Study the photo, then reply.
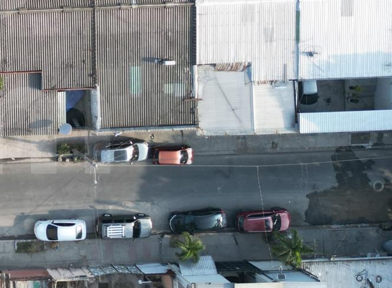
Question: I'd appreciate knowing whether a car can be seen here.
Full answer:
Yes, the image includes a car.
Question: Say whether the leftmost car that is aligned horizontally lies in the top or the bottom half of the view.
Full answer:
The leftmost car that is aligned horizontally sits in the bottom half of the picture.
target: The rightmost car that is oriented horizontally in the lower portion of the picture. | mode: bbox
[234,207,290,235]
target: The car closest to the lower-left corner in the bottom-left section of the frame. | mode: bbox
[34,218,87,244]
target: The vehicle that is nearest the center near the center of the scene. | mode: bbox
[151,145,192,168]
